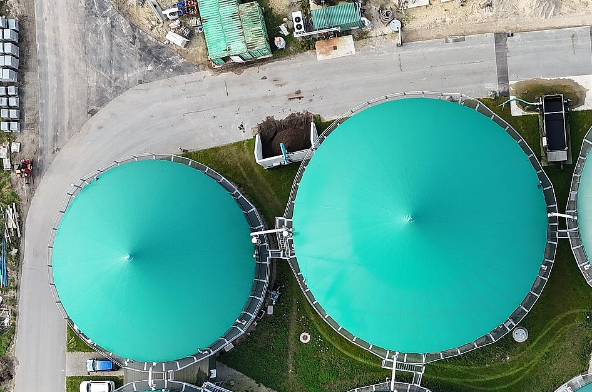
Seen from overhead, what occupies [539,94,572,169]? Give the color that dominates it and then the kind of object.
black shipping container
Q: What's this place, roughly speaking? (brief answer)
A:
industrial area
